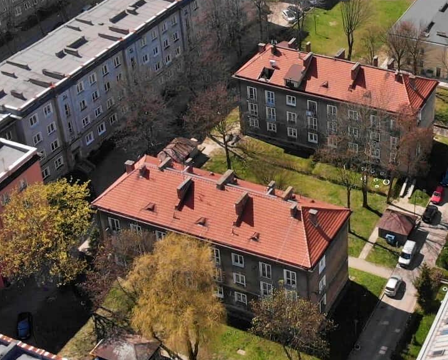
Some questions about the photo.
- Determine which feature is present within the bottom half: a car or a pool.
car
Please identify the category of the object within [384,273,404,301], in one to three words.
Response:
car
